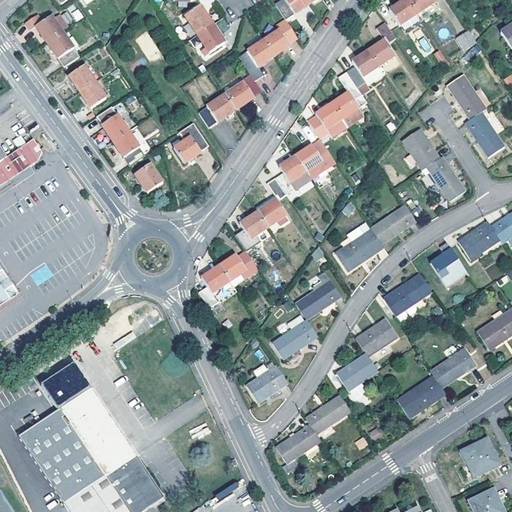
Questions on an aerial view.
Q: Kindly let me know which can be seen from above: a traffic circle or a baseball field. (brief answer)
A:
traffic circle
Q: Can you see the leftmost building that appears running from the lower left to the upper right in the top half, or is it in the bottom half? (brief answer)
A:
top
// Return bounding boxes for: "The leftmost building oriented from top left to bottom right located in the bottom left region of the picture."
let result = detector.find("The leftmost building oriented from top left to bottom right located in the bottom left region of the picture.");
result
[20,362,174,512]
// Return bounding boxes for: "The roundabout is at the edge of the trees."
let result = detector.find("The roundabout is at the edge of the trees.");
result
[116,220,190,293]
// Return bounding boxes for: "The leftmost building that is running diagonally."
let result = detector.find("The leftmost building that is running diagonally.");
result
[0,140,44,190]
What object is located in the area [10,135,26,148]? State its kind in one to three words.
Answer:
vehicle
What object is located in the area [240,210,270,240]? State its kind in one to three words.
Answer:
house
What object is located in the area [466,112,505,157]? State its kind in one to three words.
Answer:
house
